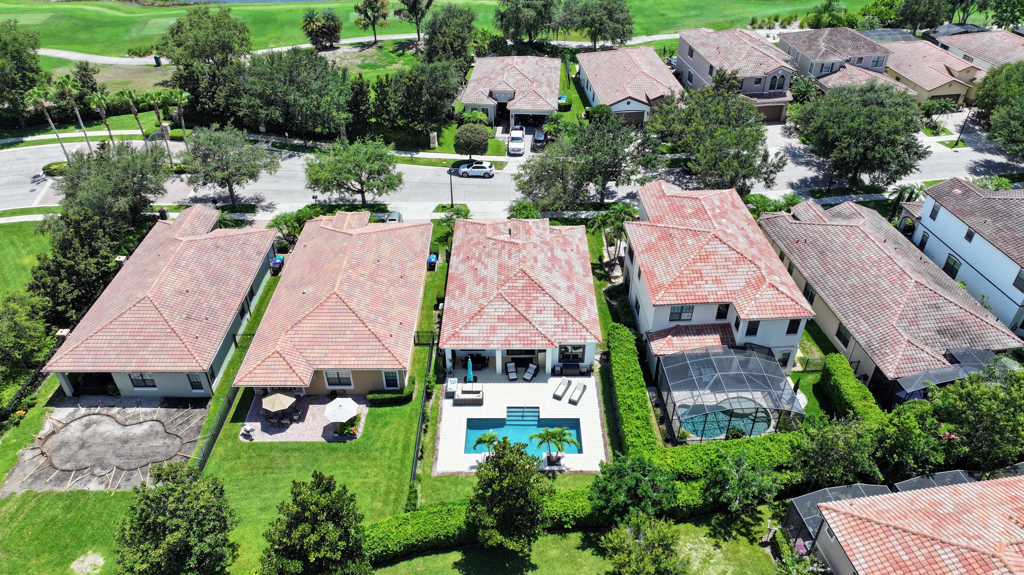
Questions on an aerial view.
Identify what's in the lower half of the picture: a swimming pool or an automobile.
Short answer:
swimming pool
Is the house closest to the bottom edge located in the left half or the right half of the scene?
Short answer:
right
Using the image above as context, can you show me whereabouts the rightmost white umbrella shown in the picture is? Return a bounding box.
[320,394,363,426]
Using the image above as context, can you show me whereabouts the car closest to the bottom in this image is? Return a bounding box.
[384,207,402,222]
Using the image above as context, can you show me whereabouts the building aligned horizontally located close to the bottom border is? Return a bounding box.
[814,474,1024,575]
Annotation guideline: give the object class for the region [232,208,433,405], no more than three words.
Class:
house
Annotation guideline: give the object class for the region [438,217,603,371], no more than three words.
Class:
house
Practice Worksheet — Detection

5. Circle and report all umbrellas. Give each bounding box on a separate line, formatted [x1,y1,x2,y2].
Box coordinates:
[257,388,300,413]
[320,394,363,426]
[464,359,476,385]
